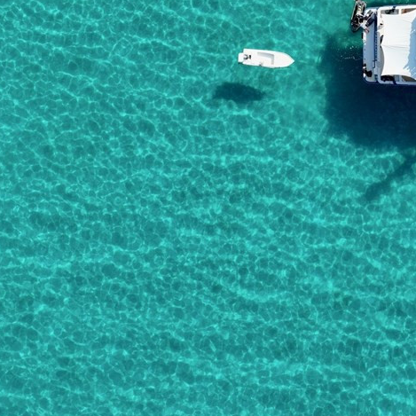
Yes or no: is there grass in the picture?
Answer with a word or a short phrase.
No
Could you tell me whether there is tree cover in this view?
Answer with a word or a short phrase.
No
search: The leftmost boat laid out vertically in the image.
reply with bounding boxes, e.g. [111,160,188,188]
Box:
[348,0,365,32]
